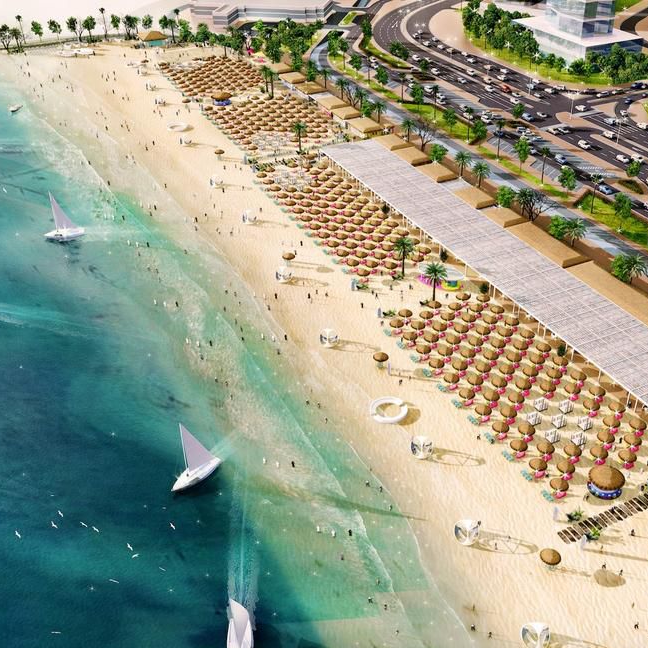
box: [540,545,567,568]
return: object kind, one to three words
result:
umbrella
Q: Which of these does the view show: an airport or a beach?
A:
beach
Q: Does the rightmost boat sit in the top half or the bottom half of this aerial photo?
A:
bottom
